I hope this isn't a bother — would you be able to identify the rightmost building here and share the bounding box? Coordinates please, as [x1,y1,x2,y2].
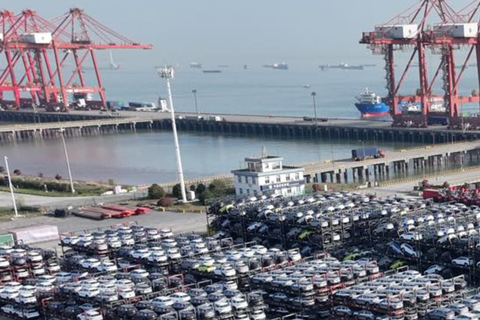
[229,143,305,194]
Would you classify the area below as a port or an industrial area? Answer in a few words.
port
